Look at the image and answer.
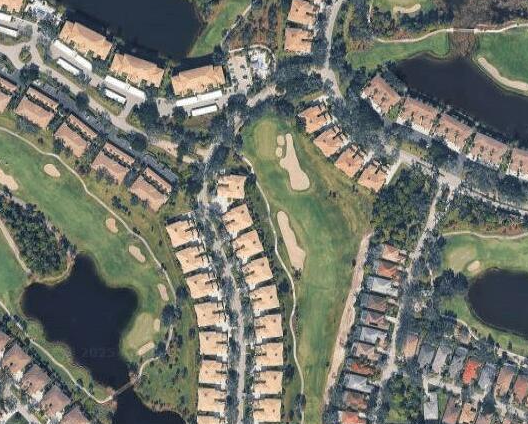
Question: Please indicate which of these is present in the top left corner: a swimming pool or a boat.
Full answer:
There is a swimming pool in the top left corner.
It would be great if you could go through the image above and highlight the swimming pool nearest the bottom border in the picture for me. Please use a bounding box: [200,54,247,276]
[251,51,271,77]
